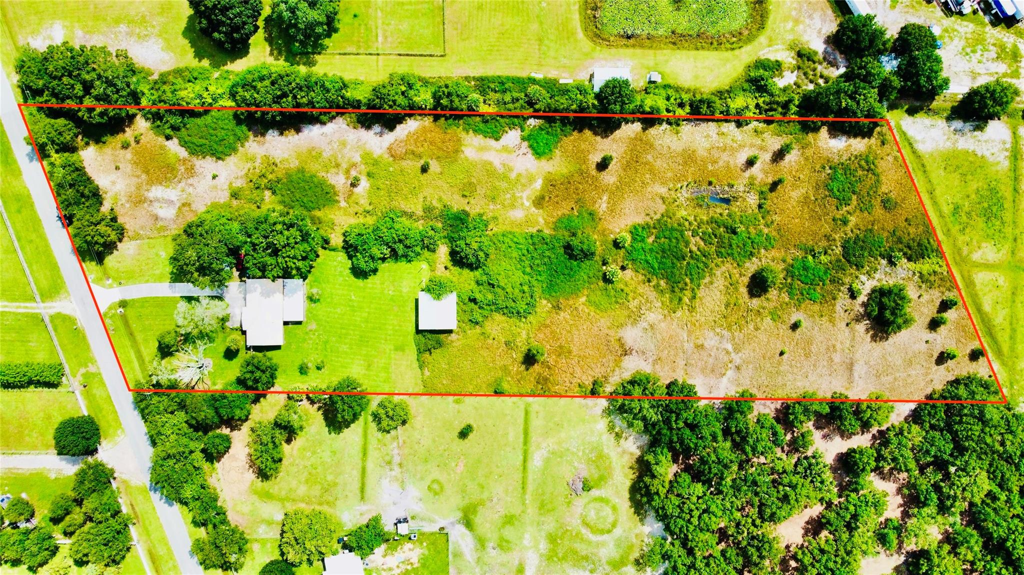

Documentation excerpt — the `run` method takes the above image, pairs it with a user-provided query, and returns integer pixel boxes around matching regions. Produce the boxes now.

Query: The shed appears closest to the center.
[419,292,456,330]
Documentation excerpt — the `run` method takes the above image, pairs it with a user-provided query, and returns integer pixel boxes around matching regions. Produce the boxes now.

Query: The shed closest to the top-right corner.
[876,51,901,72]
